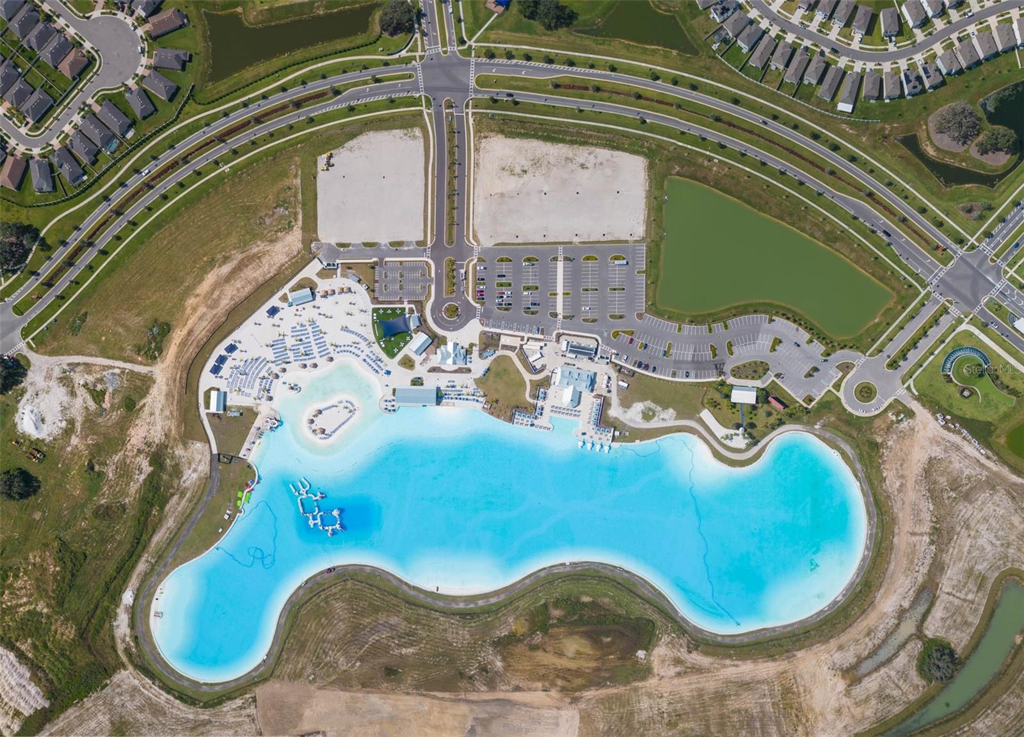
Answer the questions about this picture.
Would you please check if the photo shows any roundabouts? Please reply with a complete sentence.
Yes, there's a roundabout down there.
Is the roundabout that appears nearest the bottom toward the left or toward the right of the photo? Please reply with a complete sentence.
The roundabout that appears nearest the bottom is on the right side of the image.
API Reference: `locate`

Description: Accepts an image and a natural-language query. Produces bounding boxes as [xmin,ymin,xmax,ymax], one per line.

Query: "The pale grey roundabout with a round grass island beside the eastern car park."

[842,349,905,417]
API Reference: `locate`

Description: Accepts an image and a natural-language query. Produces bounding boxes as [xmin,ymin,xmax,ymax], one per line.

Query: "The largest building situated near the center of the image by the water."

[554,366,597,410]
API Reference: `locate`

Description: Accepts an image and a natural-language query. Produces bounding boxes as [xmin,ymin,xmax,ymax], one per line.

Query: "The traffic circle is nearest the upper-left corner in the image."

[429,290,478,333]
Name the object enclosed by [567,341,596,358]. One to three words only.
building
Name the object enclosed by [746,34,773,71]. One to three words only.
house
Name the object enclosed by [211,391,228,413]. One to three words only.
shed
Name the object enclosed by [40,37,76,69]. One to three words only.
house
